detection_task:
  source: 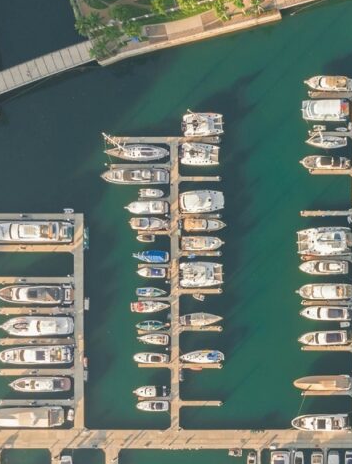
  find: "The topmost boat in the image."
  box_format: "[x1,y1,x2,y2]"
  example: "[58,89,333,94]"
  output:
[303,74,352,93]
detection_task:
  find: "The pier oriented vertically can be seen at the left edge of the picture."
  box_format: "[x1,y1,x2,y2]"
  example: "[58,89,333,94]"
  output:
[0,211,85,430]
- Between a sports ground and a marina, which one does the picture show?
marina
